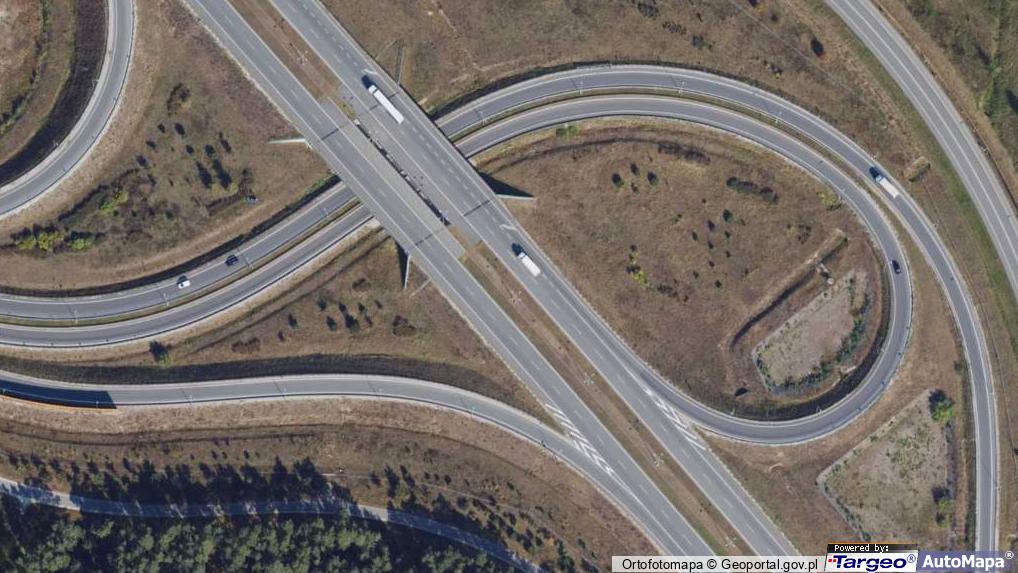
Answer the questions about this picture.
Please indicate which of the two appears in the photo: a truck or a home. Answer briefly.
truck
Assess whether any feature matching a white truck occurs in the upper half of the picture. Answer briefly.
Yes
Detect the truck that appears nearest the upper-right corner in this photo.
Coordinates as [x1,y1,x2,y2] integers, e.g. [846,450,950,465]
[876,174,900,198]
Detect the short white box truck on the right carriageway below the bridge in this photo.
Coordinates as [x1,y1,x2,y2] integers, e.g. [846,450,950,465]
[518,252,541,277]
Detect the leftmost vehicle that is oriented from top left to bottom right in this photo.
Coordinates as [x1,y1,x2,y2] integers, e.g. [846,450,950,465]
[369,84,405,123]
